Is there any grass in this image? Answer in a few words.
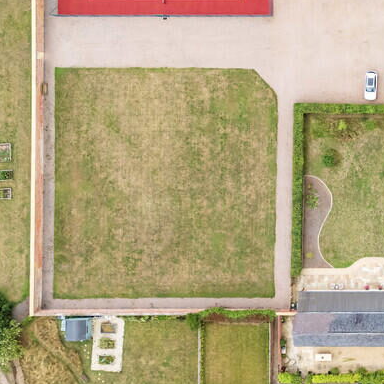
Yes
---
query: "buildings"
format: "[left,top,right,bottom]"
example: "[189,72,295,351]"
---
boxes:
[65,316,93,340]
[293,286,384,347]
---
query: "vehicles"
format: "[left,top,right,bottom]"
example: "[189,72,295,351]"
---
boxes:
[365,71,377,100]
